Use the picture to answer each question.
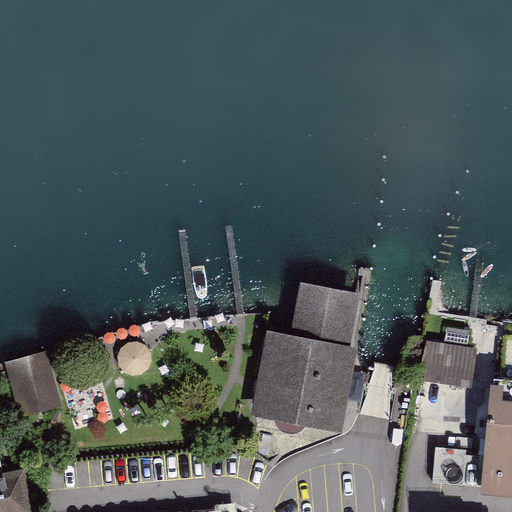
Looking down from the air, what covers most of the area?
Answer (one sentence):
The largest share of the image is taken up by water.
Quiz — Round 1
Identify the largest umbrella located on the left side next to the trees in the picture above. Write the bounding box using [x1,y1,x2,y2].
[118,342,152,376]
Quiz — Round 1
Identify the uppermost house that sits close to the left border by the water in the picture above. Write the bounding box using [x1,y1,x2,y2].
[5,350,62,414]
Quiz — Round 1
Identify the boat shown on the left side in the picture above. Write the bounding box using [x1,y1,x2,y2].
[192,265,206,298]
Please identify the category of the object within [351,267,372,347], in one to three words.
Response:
pier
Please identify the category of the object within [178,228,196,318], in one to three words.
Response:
pier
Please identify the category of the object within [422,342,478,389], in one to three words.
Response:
building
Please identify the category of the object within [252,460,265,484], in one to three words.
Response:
vehicle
